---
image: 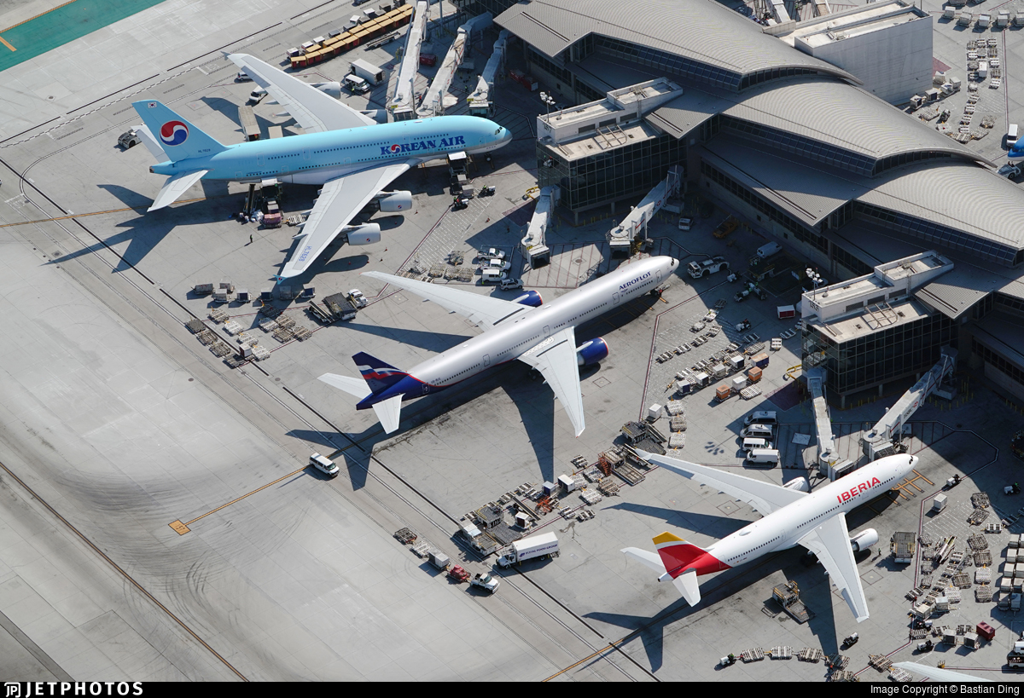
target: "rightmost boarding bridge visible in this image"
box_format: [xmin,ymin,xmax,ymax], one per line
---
[861,345,958,456]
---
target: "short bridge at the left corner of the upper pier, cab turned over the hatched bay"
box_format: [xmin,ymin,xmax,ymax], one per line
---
[519,184,561,263]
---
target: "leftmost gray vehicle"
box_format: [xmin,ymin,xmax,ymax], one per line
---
[113,130,140,149]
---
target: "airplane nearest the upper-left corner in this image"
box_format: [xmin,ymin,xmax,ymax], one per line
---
[127,51,512,283]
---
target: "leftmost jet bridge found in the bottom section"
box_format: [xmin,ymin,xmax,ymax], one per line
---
[803,366,855,475]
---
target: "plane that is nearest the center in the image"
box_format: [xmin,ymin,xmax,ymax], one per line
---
[320,257,679,435]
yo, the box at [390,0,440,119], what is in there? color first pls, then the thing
white jet bridge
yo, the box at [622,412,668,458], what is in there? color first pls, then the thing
gray work vehicle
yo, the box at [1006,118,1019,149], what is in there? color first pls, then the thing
white vehicle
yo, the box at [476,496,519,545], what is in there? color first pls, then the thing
gray work vehicle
